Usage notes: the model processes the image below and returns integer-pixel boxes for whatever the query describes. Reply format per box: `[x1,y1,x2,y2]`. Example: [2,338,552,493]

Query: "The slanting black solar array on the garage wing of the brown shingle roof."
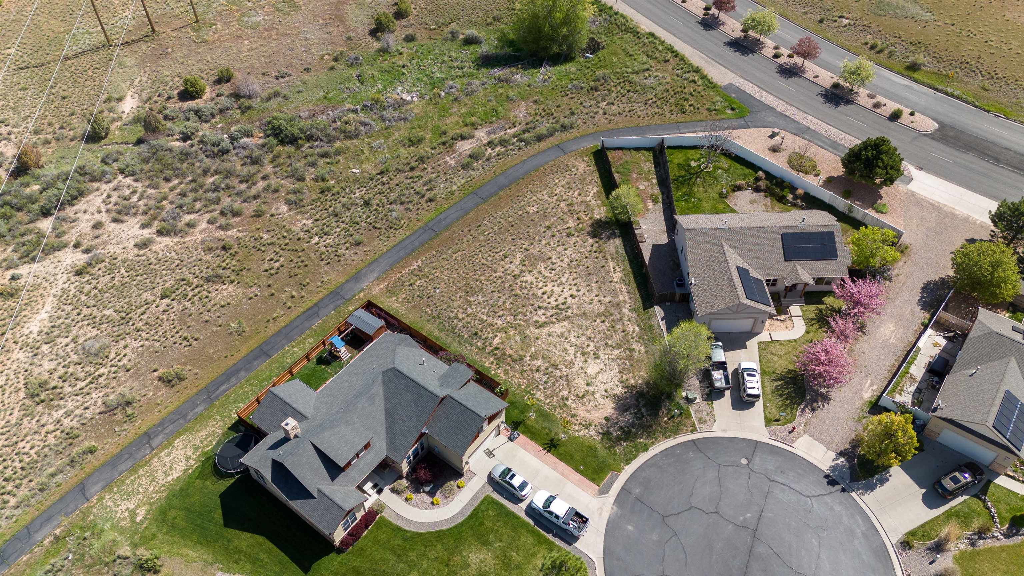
[737,265,771,305]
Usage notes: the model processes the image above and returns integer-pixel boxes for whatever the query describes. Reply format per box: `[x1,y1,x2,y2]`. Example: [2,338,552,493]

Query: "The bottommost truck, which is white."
[530,490,593,541]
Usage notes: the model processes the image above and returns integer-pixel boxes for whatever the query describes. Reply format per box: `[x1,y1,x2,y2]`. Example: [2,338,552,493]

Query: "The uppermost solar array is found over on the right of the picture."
[781,231,838,260]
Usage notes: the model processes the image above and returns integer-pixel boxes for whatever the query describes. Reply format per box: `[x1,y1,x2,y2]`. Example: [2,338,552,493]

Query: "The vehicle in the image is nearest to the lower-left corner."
[488,464,535,502]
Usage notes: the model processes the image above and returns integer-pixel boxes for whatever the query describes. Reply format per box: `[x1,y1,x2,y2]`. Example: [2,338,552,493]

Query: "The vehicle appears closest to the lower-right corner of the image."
[932,467,988,501]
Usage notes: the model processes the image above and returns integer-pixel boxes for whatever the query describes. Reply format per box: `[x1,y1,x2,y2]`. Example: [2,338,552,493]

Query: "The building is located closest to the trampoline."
[239,329,510,545]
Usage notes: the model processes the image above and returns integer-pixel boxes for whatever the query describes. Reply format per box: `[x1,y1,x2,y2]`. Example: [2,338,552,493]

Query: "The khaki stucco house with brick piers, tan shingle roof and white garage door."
[922,307,1024,476]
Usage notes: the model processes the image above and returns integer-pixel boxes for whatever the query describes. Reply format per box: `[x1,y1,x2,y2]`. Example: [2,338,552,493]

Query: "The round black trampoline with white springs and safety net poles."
[210,423,261,476]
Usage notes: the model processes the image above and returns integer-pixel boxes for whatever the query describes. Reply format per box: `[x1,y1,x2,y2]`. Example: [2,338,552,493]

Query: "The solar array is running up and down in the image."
[996,380,1024,447]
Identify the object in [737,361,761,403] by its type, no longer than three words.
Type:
car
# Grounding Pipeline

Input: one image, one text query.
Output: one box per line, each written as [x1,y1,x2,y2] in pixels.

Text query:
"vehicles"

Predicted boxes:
[488,464,535,502]
[530,490,593,541]
[710,351,733,394]
[932,467,988,501]
[737,361,761,403]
